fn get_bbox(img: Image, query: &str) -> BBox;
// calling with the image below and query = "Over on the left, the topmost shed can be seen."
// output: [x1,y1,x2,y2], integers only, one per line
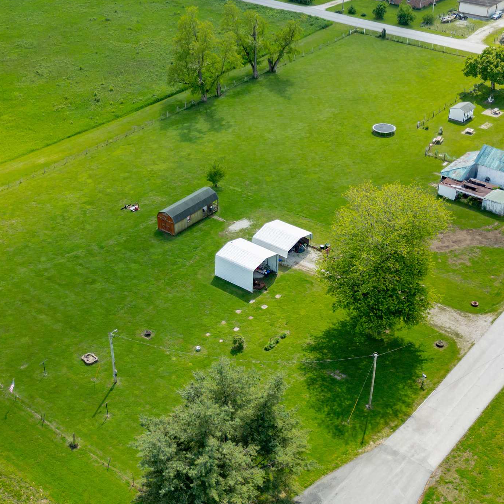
[154,187,220,236]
